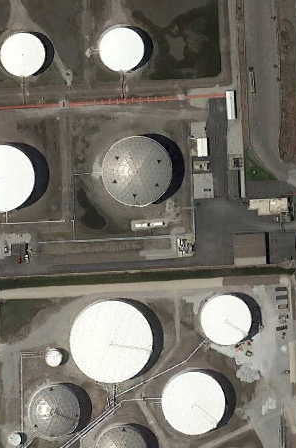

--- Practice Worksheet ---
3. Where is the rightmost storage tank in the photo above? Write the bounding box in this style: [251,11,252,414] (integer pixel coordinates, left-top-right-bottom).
[199,292,252,347]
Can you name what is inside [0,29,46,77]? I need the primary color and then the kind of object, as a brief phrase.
white storage tank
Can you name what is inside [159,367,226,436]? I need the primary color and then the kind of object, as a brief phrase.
white storage tank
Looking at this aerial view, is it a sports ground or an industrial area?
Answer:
industrial area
